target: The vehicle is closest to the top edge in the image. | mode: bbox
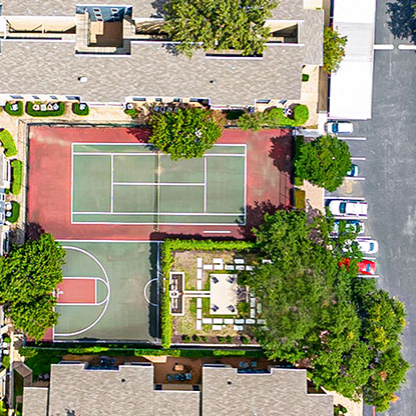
[321,119,358,135]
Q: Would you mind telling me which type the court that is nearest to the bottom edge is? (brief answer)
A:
basketball court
